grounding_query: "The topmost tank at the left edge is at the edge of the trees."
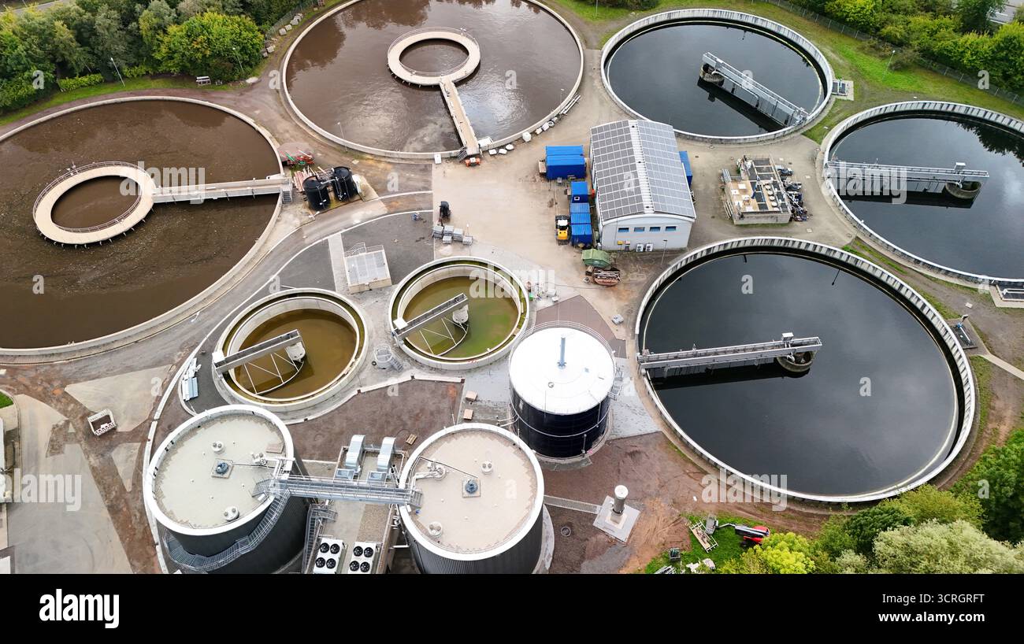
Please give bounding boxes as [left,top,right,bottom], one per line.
[0,97,294,366]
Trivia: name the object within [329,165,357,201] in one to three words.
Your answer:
storage tank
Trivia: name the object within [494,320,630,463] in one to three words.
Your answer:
storage tank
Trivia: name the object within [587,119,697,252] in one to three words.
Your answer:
building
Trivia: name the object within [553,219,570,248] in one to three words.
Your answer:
work vehicle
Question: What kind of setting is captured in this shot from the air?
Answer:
industrial area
